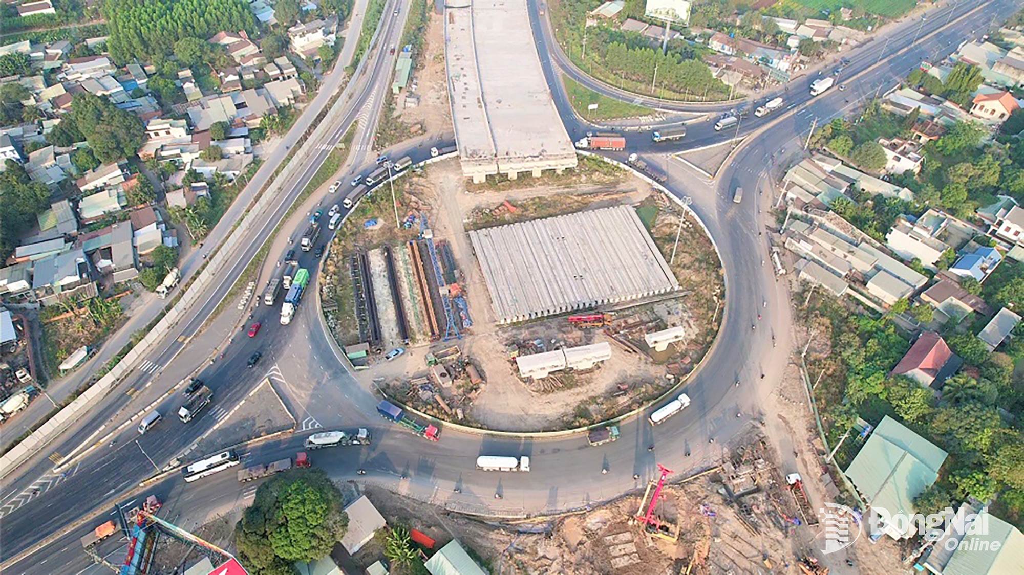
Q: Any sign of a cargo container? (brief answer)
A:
Yes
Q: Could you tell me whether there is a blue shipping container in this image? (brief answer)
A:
No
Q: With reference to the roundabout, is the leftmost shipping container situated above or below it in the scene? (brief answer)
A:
below it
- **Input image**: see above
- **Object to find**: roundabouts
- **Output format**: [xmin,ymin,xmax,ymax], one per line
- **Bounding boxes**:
[316,147,727,437]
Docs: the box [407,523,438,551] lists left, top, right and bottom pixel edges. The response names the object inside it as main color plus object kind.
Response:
red shipping container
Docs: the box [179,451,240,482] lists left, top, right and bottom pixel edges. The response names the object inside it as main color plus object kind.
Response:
white bus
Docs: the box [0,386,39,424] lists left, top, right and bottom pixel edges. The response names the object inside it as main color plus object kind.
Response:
white truck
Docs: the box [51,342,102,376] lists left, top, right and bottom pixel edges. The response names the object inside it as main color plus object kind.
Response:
white vehicle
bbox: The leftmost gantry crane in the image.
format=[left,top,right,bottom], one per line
[419,231,461,340]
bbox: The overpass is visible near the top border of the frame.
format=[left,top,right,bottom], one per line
[443,0,577,182]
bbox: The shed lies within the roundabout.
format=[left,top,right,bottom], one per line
[344,342,371,360]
